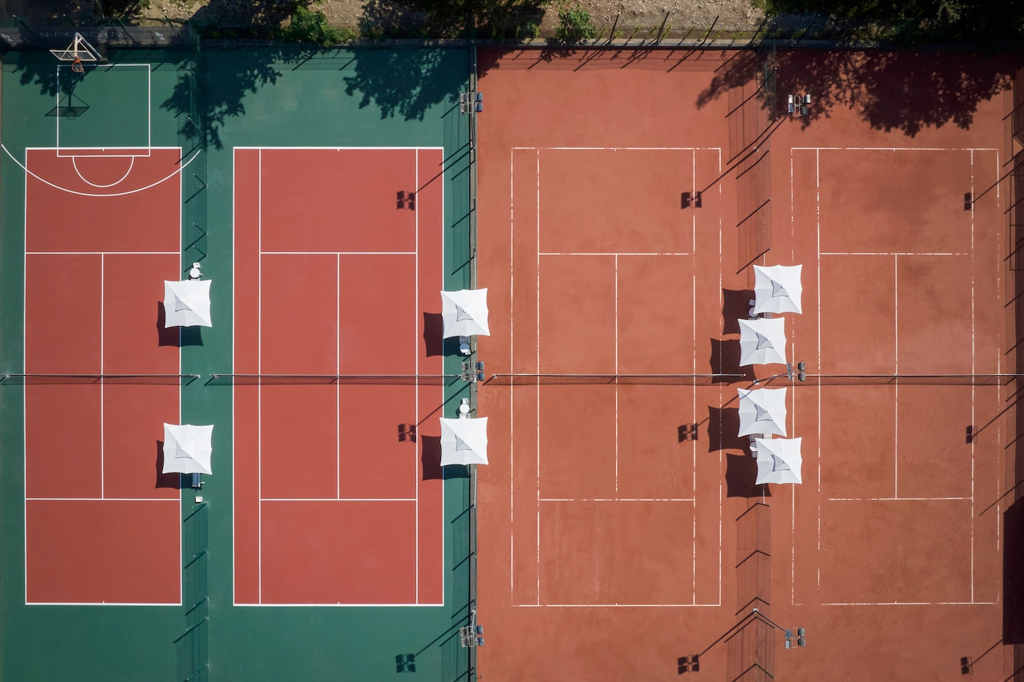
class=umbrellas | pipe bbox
[753,264,802,314]
[738,317,786,366]
[440,417,488,466]
[755,437,802,484]
[163,423,213,475]
[164,280,212,328]
[738,388,787,437]
[441,288,490,338]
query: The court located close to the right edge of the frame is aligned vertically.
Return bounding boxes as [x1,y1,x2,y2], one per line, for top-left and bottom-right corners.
[757,46,1024,682]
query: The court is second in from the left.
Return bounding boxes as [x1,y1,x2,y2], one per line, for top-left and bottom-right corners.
[206,46,470,682]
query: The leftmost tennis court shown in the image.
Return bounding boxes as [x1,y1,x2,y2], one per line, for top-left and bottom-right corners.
[2,46,206,682]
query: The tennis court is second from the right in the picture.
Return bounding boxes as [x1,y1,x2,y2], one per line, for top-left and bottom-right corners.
[477,46,757,682]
